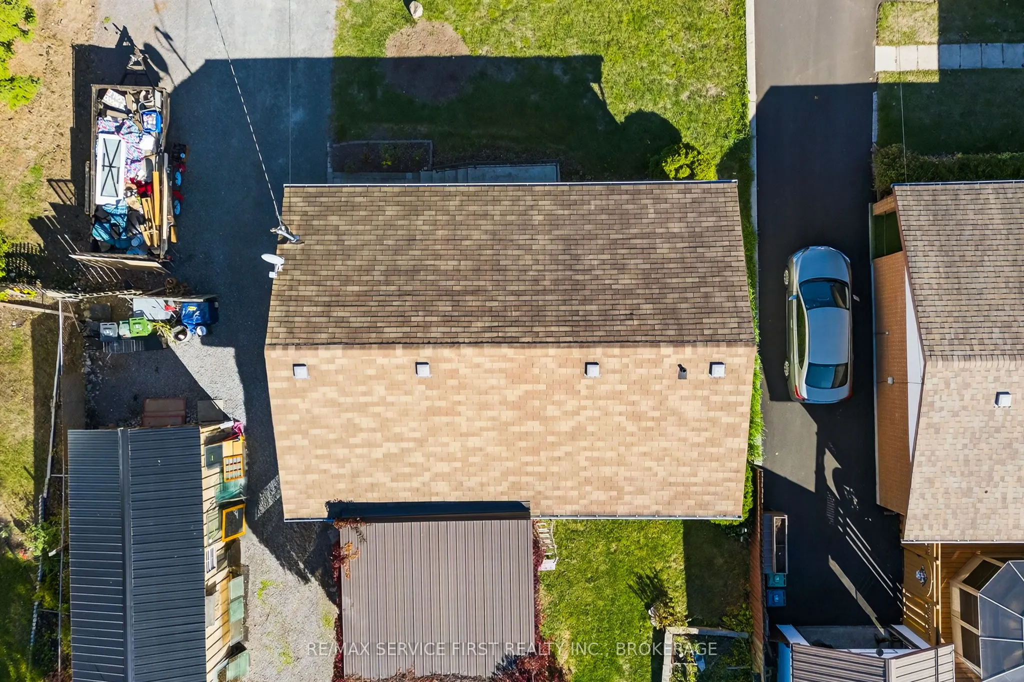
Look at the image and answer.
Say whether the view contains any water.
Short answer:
No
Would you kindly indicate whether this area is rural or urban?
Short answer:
urban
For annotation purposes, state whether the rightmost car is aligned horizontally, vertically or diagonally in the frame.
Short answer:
vertically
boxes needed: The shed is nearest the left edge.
[67,425,222,682]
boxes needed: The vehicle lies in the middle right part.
[781,246,858,405]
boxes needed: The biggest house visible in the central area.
[264,179,757,523]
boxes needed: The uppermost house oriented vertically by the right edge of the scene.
[868,181,1024,546]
